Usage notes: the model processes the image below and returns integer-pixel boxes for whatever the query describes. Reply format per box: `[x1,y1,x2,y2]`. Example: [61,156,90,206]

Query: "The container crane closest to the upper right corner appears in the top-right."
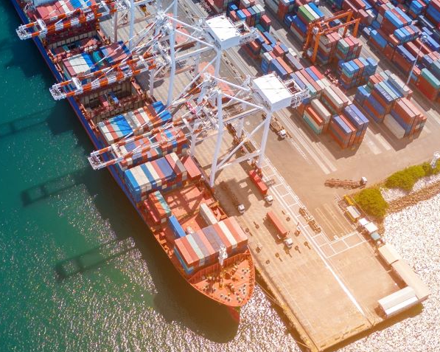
[302,8,363,66]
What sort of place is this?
port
